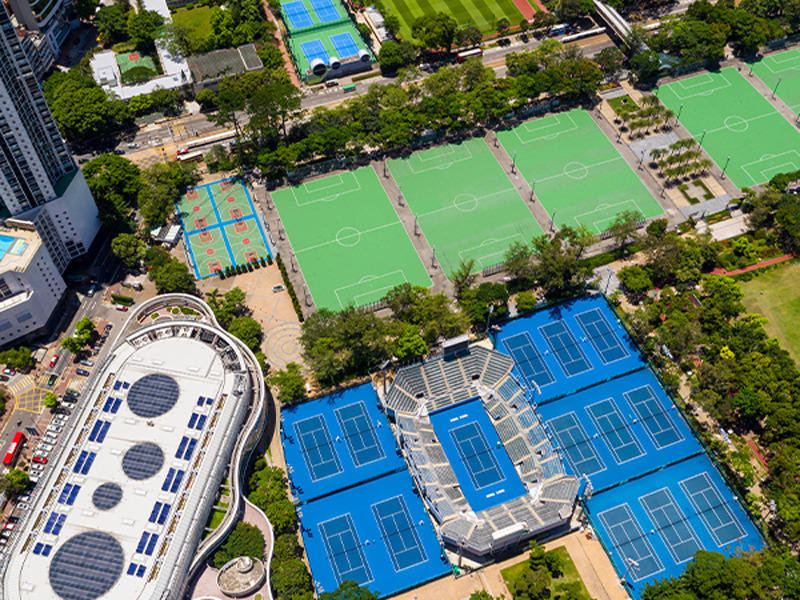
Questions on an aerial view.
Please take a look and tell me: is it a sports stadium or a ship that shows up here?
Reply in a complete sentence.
Looking from above, you can make out a sports stadium.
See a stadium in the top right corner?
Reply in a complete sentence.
No, no stadium appears in the top right corner.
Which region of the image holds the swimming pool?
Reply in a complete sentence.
The swimming pool sits in the left section of the image.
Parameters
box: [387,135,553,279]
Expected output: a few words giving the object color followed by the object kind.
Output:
green soccer field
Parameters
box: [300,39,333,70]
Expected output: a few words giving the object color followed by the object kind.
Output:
blue tennis court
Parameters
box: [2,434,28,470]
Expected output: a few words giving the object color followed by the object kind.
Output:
red bus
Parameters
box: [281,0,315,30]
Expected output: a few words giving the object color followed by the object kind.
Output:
blue tennis court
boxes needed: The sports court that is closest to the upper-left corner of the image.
[114,48,163,83]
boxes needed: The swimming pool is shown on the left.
[0,236,27,259]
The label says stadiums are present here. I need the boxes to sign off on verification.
[386,344,580,562]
